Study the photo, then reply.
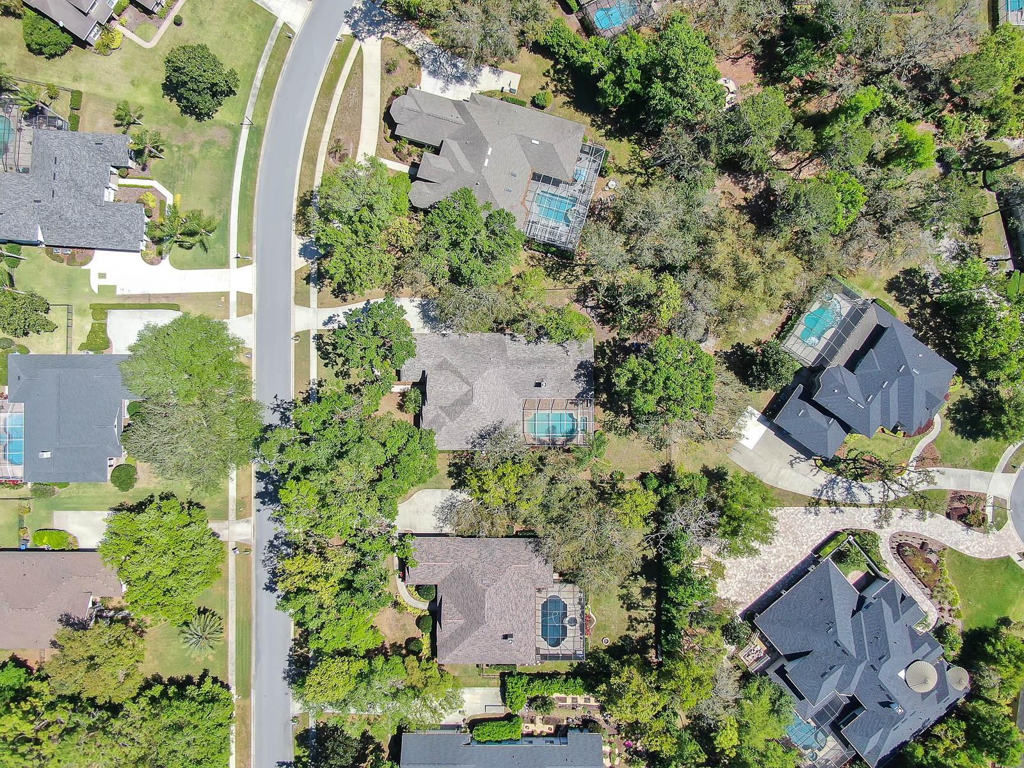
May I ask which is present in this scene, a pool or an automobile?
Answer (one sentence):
This aerial view contains a pool.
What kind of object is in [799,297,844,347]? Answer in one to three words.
swimming pool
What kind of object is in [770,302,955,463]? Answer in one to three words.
house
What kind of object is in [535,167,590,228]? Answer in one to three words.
swimming pool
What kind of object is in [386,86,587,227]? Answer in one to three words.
house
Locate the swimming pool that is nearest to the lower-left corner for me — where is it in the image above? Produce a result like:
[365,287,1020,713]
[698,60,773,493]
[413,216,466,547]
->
[0,412,23,467]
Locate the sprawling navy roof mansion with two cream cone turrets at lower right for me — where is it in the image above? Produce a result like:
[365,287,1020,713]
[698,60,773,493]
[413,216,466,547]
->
[755,557,969,768]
